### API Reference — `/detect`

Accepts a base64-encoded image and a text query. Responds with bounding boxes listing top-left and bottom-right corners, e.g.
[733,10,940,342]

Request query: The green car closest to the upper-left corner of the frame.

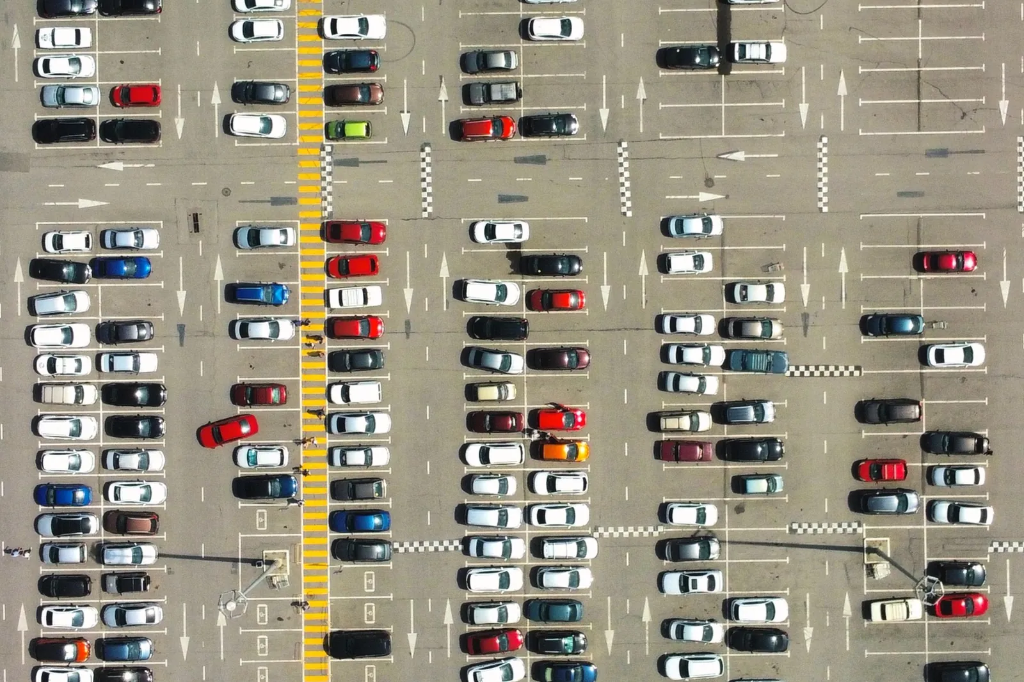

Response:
[325,117,372,143]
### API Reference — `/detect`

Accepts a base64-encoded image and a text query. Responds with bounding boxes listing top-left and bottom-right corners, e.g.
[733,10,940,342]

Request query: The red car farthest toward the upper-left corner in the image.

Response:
[112,82,162,109]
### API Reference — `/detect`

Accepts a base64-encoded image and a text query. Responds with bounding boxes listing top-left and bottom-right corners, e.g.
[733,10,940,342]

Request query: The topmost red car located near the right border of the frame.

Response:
[922,248,977,275]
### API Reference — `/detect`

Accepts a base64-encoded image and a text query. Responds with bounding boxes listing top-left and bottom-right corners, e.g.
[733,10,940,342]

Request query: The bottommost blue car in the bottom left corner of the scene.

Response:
[102,636,154,664]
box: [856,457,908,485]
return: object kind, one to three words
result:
car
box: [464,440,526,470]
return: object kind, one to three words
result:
car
